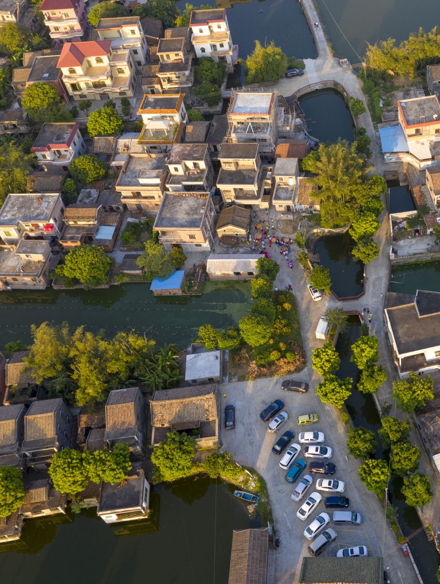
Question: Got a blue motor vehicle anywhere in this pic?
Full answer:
Yes, looking at the shot, I can spot a blue motor vehicle.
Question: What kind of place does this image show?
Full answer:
This looks like a residential area.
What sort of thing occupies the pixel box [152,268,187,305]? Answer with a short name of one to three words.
building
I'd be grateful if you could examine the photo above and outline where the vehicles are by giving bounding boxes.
[296,493,324,521]
[303,445,333,460]
[337,545,368,558]
[307,528,338,556]
[324,494,351,510]
[290,475,315,503]
[303,512,332,541]
[222,406,236,431]
[282,382,309,394]
[315,311,330,339]
[283,458,308,485]
[271,431,297,456]
[265,412,290,434]
[297,413,319,427]
[308,461,337,476]
[278,444,303,470]
[332,510,363,525]
[315,479,345,493]
[306,285,323,302]
[285,68,305,79]
[259,400,285,421]
[299,431,325,444]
